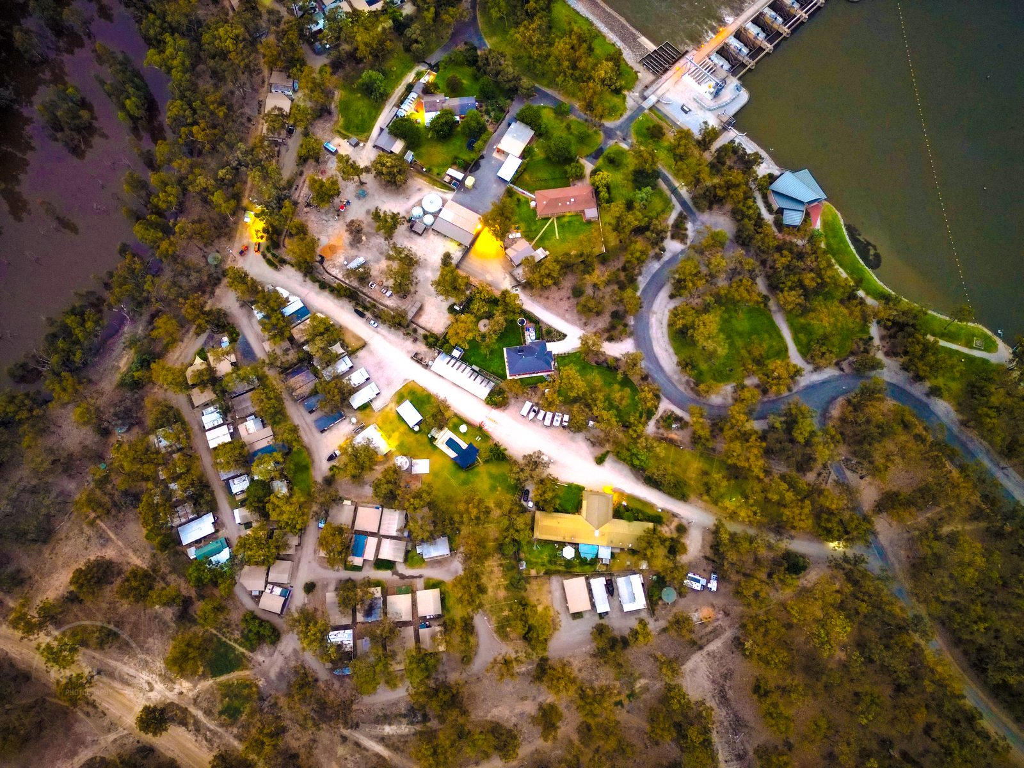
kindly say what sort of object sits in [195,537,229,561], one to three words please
building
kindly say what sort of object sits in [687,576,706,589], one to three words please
vehicle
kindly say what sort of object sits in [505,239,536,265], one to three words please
house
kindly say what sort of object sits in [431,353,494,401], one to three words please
shed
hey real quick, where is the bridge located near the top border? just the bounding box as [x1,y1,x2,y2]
[642,0,776,110]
